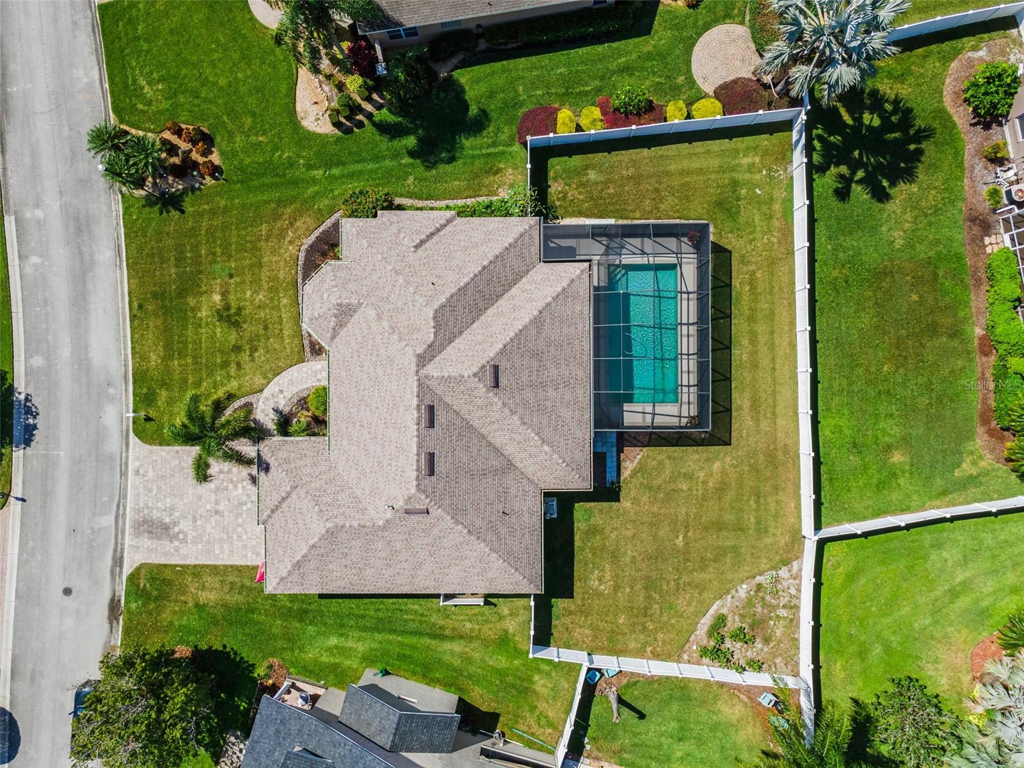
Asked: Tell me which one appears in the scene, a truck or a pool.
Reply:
pool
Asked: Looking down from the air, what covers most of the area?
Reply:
grass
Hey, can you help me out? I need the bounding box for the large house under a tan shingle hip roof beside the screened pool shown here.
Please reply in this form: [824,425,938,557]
[256,209,593,596]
